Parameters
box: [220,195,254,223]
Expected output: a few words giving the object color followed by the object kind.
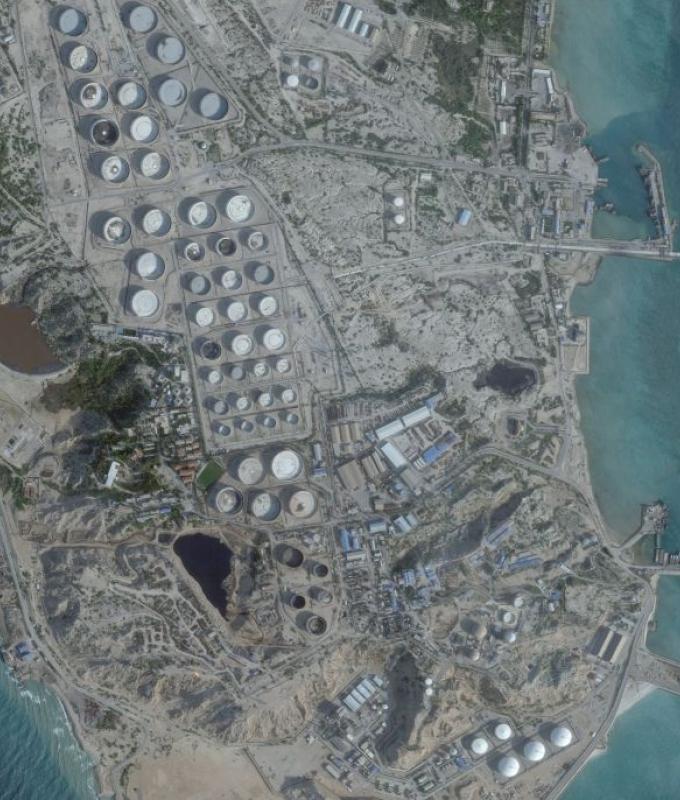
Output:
white storage tank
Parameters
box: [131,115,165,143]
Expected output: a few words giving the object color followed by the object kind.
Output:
white storage tank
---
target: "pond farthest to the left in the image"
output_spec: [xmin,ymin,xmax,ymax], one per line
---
[0,303,66,374]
